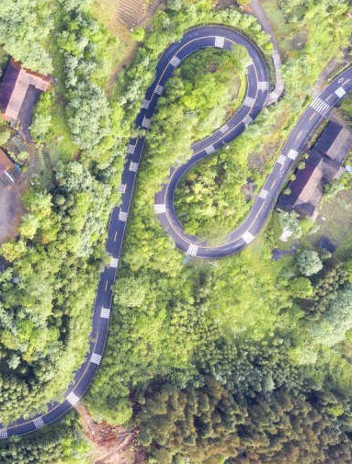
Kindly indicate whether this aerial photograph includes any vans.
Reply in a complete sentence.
No, the scene contains no van.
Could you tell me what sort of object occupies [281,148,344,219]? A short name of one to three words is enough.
house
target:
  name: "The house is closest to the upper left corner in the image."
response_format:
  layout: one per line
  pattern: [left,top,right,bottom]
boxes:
[0,63,55,123]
